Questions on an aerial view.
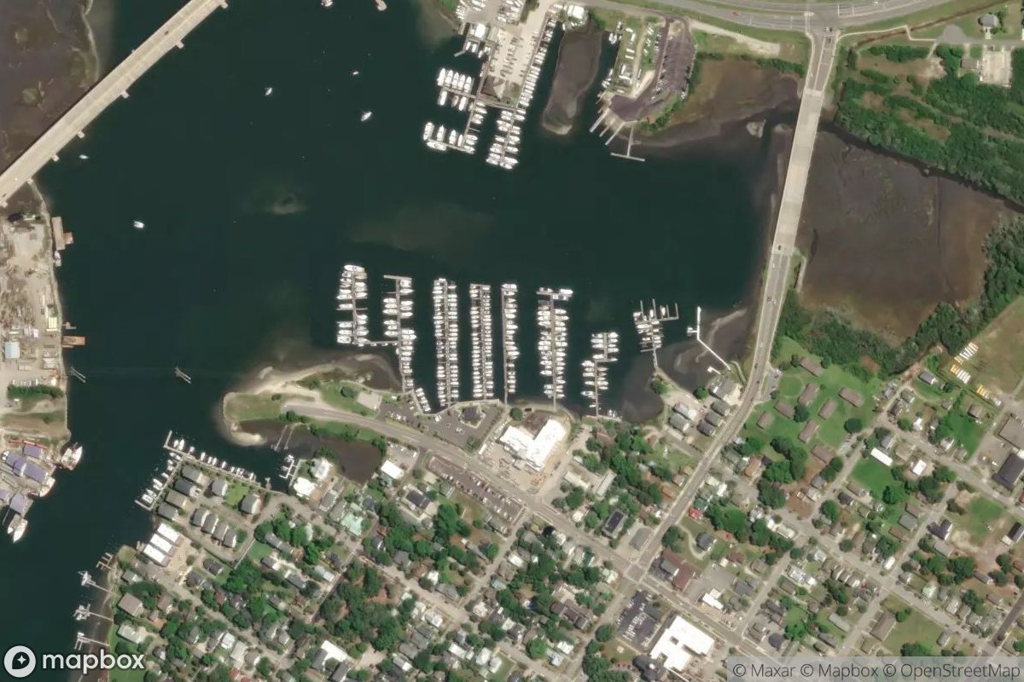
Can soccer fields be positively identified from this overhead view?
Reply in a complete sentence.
No, no soccer field is visible in the view.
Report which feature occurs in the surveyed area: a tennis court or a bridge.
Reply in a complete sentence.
Of the two, only a bridge appears.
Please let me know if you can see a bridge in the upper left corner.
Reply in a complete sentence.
Yes, the scene does show a bridge in the upper left corner.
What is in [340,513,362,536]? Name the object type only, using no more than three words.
house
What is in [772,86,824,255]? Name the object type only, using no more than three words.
bridge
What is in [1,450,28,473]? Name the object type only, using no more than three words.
building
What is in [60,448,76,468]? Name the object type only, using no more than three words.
vessel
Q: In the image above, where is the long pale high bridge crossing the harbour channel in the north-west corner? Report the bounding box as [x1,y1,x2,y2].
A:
[0,0,231,207]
